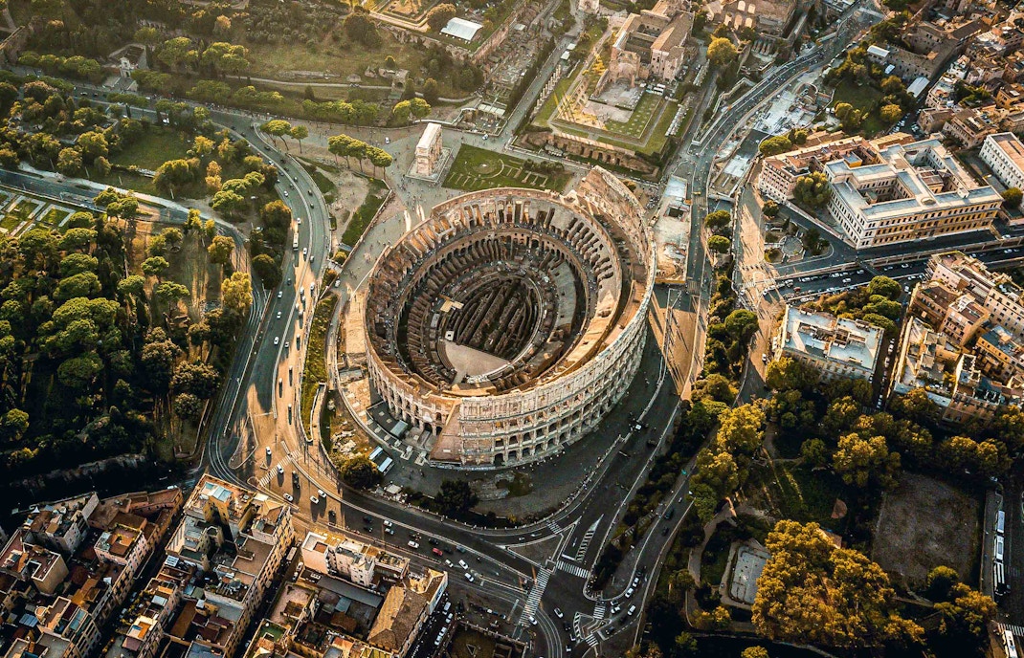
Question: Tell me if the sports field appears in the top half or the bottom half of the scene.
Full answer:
Seen from above, the sports field lies in the bottom half of the view.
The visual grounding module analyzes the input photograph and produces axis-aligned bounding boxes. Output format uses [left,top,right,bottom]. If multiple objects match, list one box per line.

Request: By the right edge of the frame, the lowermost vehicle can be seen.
[1005,628,1018,657]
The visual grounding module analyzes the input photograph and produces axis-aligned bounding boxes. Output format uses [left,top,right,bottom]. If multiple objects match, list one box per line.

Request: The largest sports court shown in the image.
[723,542,777,606]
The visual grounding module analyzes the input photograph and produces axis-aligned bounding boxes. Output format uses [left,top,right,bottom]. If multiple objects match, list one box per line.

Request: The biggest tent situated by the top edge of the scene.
[439,17,484,46]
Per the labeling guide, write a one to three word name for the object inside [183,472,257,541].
building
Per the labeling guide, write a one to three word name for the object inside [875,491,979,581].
sports field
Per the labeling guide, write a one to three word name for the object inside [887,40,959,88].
building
